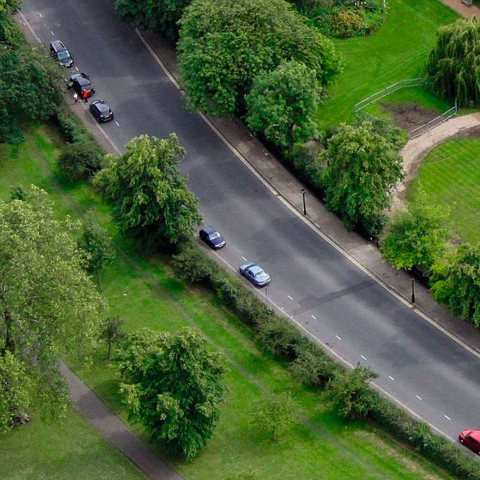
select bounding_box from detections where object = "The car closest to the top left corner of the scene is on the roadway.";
[48,35,73,63]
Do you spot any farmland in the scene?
No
